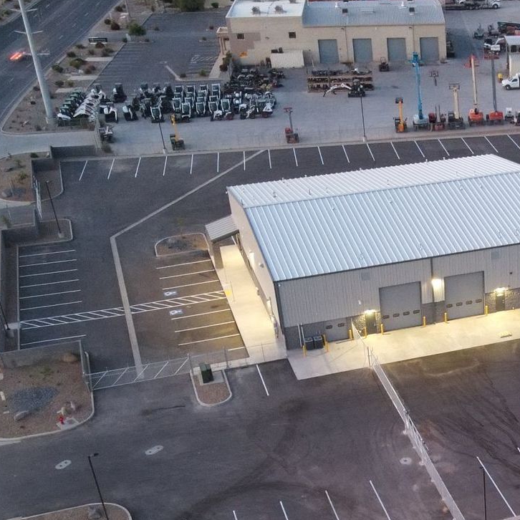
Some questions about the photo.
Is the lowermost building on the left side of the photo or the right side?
right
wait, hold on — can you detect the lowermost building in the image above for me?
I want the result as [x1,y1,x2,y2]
[227,153,520,349]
